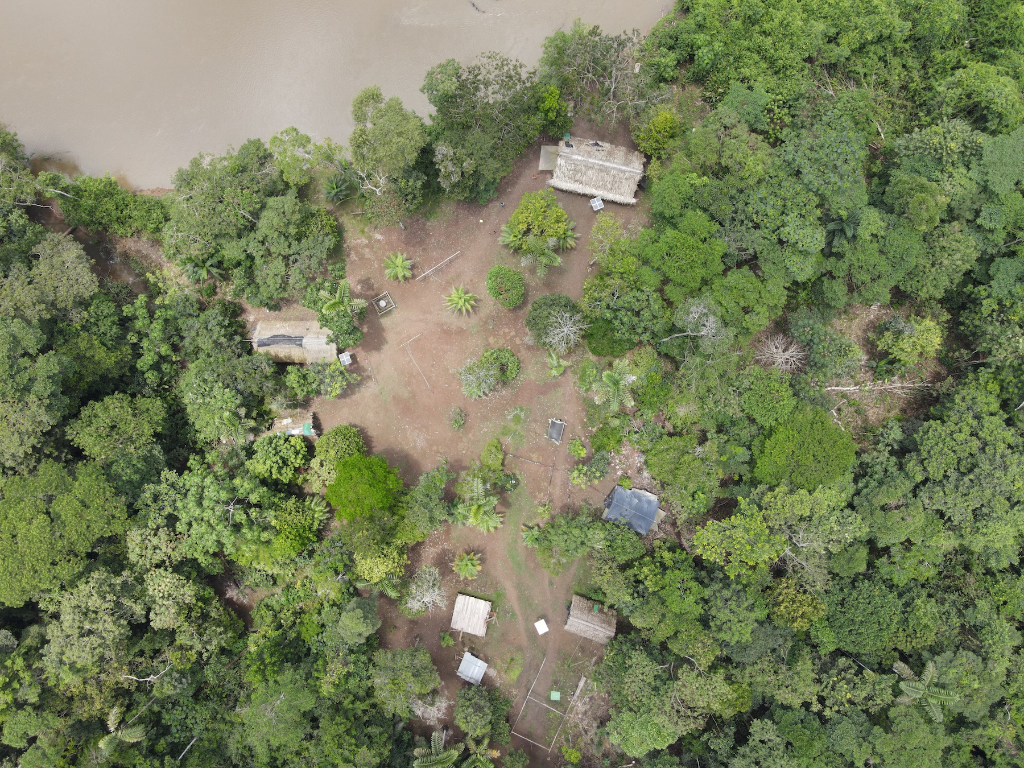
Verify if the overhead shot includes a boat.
No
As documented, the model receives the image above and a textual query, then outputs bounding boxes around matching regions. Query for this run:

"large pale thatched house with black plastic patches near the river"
[543,137,649,205]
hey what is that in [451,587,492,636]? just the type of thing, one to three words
shed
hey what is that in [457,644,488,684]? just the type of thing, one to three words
shed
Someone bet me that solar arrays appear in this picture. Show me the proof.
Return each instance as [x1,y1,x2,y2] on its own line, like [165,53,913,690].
[589,196,603,211]
[338,352,352,365]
